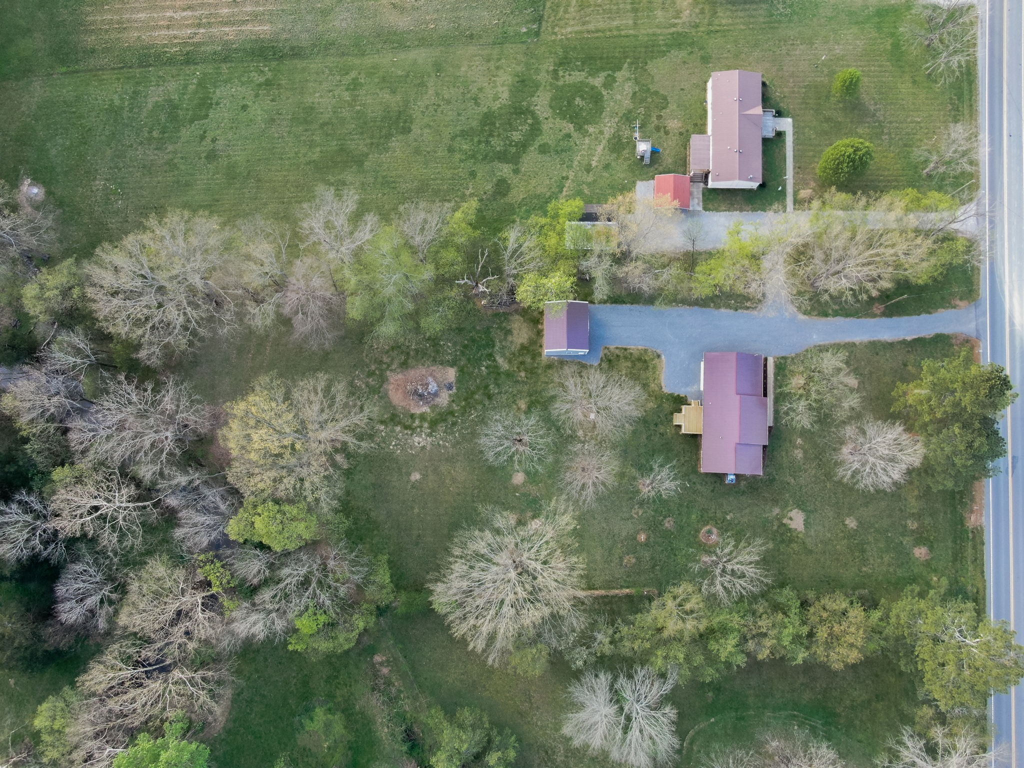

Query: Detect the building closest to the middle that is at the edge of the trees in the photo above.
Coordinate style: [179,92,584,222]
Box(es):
[544,300,588,354]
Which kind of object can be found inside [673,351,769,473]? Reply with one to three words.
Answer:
house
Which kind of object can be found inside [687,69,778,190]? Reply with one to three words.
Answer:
house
